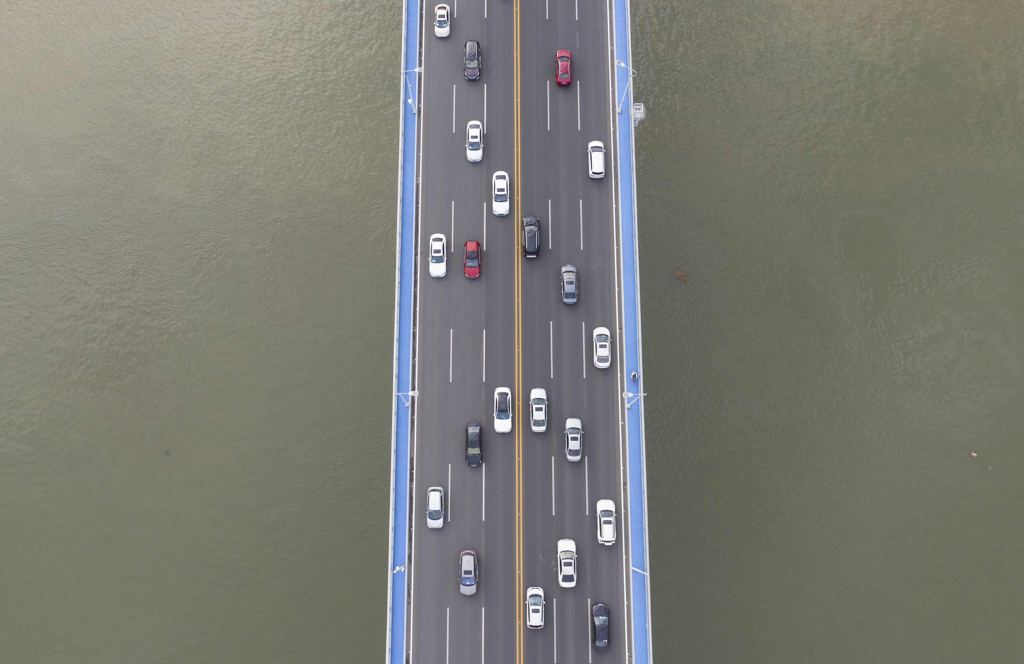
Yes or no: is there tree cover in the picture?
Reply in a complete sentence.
No, the scene doesn't show any tree cover.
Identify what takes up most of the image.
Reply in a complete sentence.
The largest share of the image is taken up by water.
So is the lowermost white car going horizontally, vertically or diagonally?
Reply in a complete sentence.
Seen from above, the lowermost white car lies vertically.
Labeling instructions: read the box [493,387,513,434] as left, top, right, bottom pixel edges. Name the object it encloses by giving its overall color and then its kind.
white car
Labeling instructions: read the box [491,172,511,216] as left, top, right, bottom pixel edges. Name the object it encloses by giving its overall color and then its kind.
white car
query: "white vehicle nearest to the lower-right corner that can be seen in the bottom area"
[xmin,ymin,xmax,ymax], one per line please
[596,499,617,545]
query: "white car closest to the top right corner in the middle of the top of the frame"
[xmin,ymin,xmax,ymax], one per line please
[587,140,606,179]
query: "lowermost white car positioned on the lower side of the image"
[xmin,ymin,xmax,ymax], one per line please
[525,586,545,630]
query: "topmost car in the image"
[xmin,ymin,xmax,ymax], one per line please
[433,4,451,38]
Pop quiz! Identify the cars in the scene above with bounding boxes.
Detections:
[596,499,617,545]
[458,550,479,596]
[529,388,549,433]
[590,602,611,653]
[428,234,447,278]
[425,487,445,529]
[463,241,482,279]
[463,41,481,81]
[555,49,573,86]
[587,140,606,179]
[491,172,511,216]
[464,422,484,468]
[493,387,513,434]
[525,586,545,630]
[556,538,578,588]
[563,418,584,462]
[521,216,541,258]
[560,264,579,305]
[592,327,612,369]
[433,4,451,38]
[465,121,484,163]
